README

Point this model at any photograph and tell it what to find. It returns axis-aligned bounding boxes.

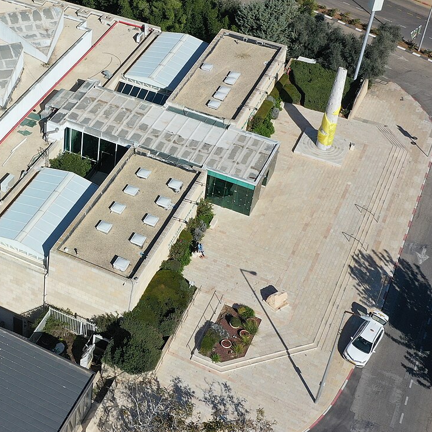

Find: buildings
[0,0,293,339]
[0,326,95,432]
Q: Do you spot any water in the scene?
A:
No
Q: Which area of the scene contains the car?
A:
bottom right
